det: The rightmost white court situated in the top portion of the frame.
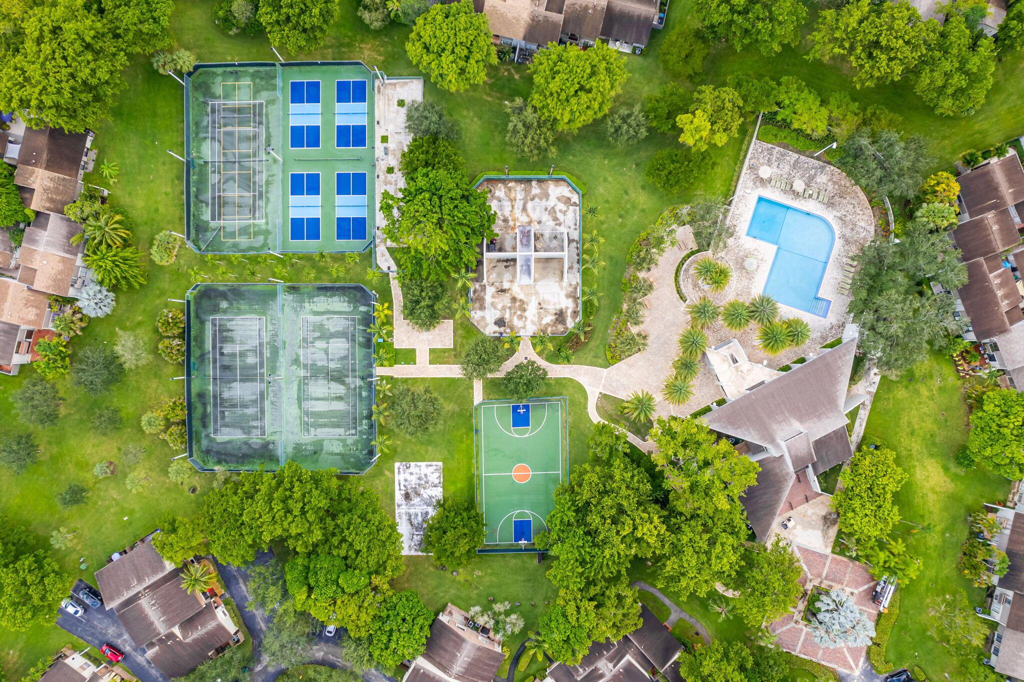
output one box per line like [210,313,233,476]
[471,179,580,335]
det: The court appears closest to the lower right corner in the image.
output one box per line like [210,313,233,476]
[479,400,566,548]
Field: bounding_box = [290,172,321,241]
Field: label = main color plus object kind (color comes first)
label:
blue sports court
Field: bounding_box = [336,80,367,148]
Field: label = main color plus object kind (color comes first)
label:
blue sports court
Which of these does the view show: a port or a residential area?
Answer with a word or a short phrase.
residential area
